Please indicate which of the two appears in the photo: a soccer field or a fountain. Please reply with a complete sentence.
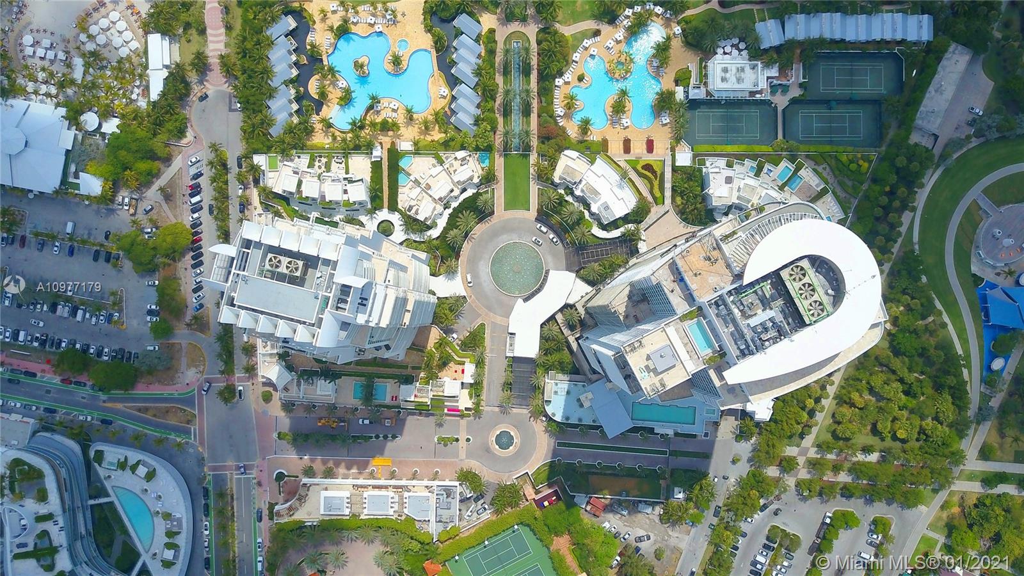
This aerial view contains a fountain.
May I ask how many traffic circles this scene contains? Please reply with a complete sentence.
In total, there are 2 traffic circles in the scene.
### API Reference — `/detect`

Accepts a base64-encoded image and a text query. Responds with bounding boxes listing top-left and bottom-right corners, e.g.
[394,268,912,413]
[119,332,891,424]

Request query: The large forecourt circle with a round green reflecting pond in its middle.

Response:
[459,213,563,325]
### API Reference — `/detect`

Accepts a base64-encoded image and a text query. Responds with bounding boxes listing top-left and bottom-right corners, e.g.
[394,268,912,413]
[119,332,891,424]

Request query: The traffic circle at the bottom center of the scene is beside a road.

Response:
[463,399,547,484]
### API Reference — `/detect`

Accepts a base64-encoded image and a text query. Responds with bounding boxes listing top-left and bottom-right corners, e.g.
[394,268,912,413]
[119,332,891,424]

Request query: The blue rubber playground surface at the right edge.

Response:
[976,272,1024,389]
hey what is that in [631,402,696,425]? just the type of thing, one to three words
swimming pool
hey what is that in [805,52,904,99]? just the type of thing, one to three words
tennis court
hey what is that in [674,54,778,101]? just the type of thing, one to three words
building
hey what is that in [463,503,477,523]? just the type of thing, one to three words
vehicle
